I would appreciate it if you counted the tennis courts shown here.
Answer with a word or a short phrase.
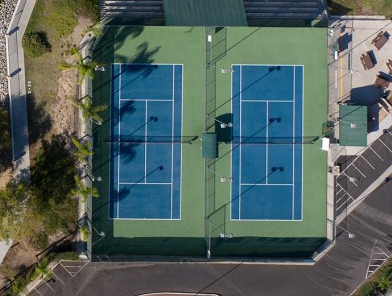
2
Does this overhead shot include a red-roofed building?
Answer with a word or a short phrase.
No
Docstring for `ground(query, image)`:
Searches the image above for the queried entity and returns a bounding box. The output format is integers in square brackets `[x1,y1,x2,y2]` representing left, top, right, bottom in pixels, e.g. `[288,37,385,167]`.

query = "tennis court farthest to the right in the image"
[206,26,326,256]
